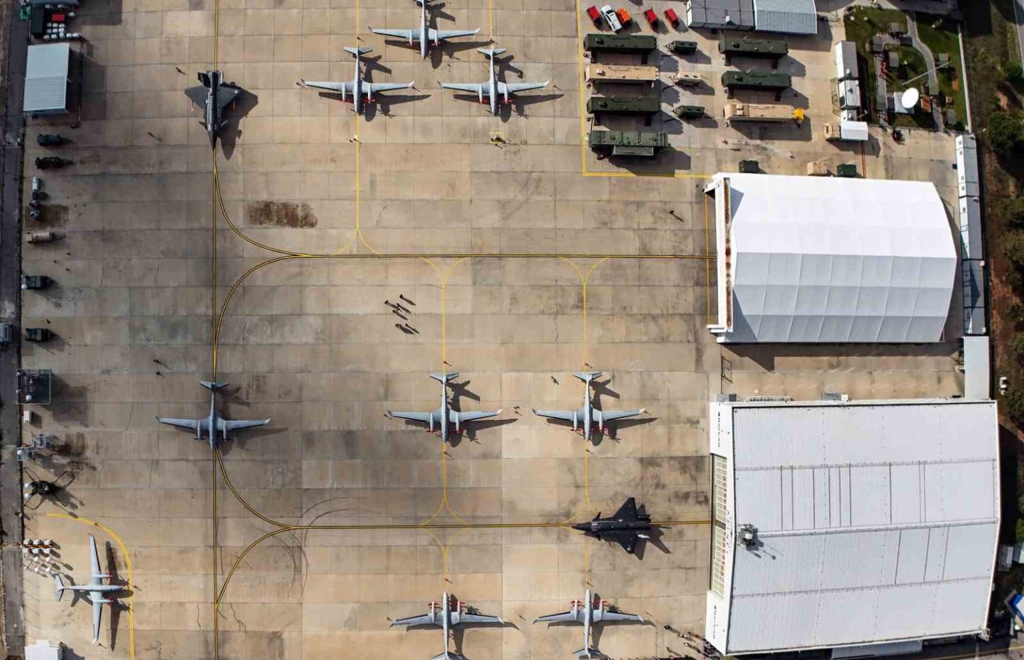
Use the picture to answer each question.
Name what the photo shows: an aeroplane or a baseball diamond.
aeroplane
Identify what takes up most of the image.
paved ground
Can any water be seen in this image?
No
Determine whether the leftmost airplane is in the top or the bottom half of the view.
bottom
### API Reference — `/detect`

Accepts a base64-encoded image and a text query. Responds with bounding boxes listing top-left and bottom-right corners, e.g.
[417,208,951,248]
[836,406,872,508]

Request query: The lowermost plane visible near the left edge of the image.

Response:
[47,537,121,642]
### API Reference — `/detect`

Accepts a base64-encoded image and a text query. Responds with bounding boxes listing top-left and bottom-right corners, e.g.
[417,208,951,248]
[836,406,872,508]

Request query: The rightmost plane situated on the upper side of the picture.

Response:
[439,42,547,113]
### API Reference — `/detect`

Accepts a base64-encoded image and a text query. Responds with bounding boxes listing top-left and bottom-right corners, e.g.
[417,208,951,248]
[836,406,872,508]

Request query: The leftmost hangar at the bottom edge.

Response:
[706,398,1003,659]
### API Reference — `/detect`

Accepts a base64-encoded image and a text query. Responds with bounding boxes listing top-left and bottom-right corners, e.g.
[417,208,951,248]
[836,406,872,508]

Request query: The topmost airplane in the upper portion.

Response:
[372,0,476,55]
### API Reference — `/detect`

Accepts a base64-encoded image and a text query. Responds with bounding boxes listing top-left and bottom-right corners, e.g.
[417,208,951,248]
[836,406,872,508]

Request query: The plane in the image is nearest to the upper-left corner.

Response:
[186,70,241,148]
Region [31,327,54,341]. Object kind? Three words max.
vehicle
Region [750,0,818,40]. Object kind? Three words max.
building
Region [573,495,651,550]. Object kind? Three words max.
airplane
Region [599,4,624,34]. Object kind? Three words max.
truck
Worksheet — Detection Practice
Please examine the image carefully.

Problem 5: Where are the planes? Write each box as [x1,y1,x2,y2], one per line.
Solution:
[372,0,476,55]
[573,495,651,550]
[153,380,268,448]
[534,591,644,660]
[303,42,410,110]
[388,591,503,660]
[387,373,501,440]
[532,373,644,441]
[47,537,121,642]
[439,42,547,113]
[186,70,241,148]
